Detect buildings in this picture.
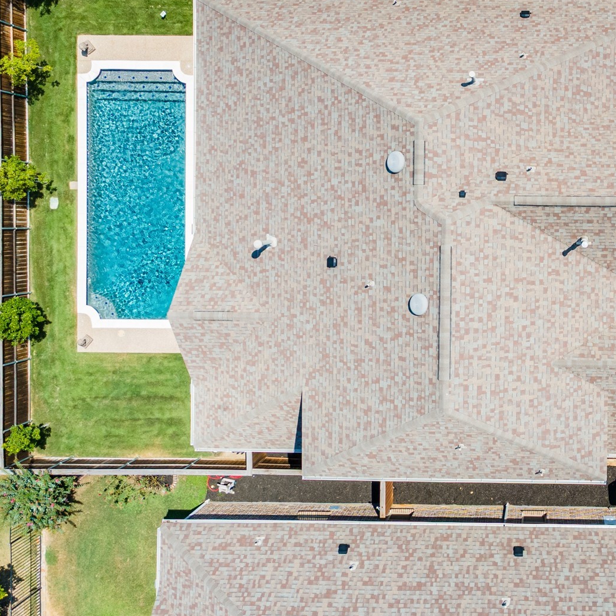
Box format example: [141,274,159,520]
[148,496,616,616]
[166,0,616,487]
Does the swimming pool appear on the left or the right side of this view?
left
